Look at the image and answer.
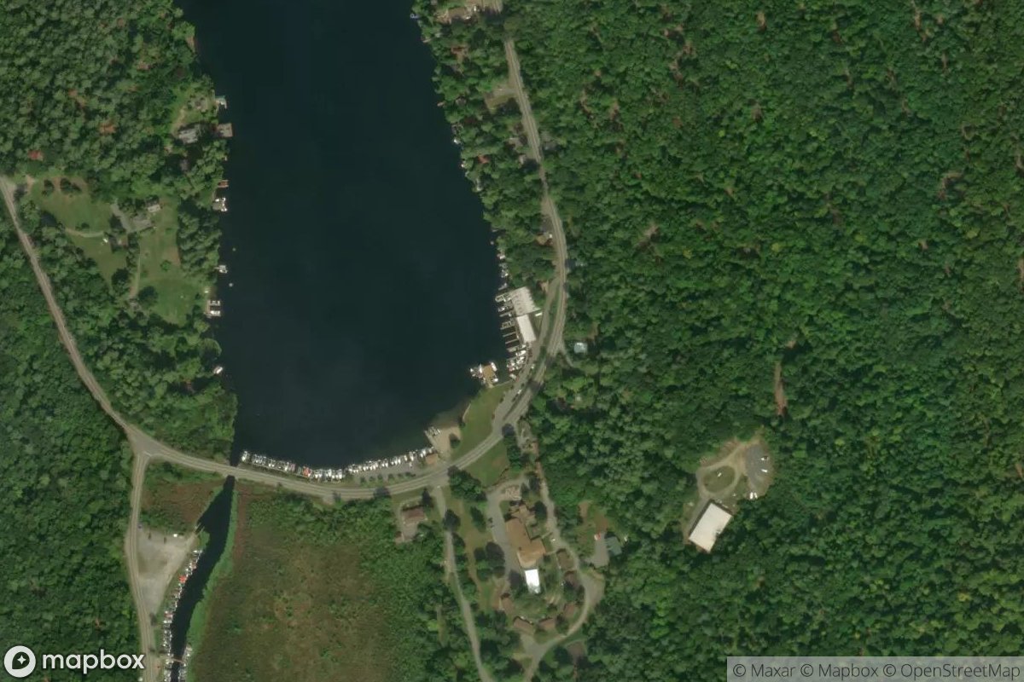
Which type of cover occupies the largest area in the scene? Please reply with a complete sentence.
For the most part, this view shows trees.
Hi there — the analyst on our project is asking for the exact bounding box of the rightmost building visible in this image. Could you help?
[690,504,733,552]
